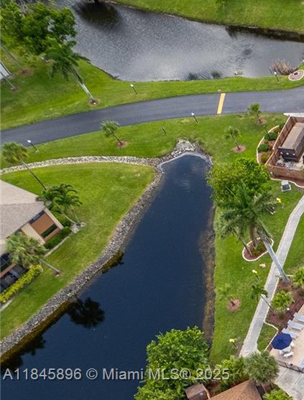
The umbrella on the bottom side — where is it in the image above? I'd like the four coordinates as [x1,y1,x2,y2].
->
[270,333,294,353]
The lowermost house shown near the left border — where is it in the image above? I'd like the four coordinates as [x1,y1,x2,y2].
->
[0,185,70,271]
